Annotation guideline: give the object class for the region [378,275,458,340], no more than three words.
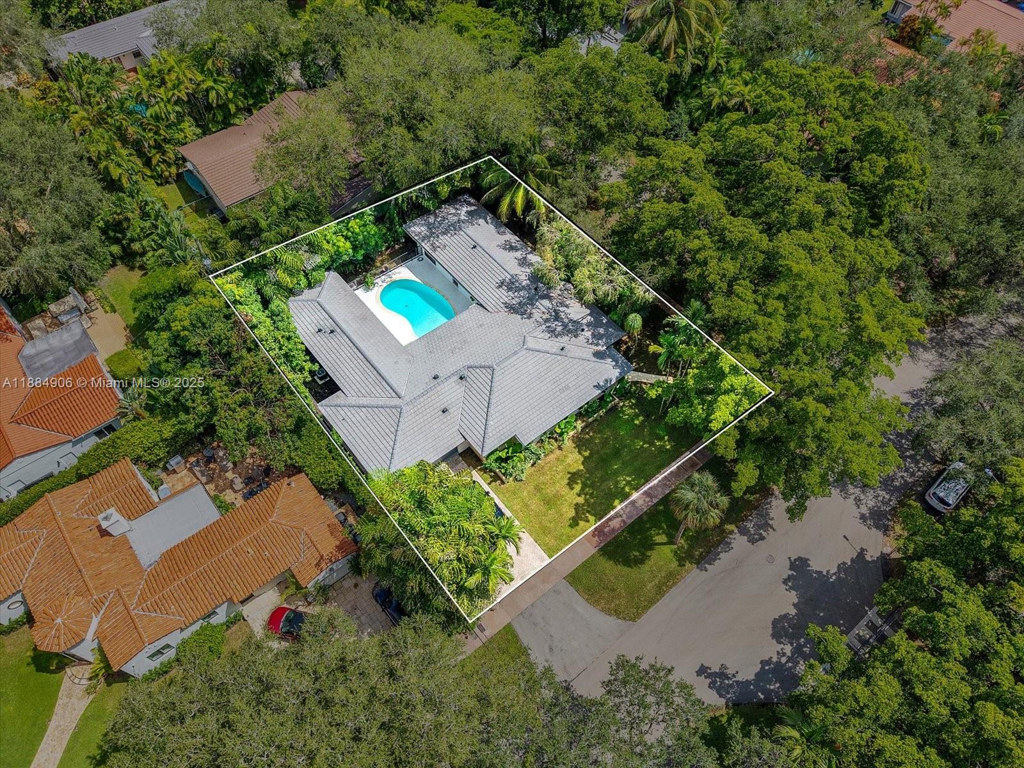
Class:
swimming pool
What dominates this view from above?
trees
